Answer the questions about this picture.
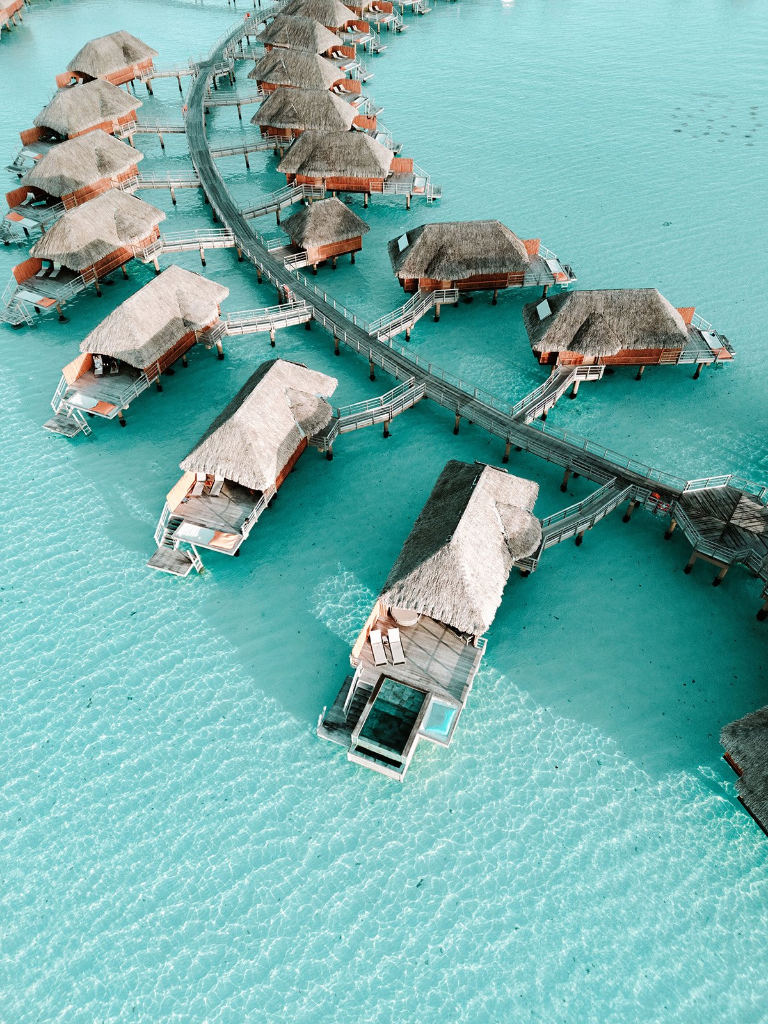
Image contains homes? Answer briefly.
Yes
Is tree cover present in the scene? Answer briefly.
No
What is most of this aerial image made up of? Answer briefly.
water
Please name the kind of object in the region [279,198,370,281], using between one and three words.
shed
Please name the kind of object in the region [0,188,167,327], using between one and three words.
house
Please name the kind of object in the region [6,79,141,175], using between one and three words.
house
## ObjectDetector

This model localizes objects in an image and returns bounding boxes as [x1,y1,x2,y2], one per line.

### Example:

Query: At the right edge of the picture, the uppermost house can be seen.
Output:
[519,289,731,399]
